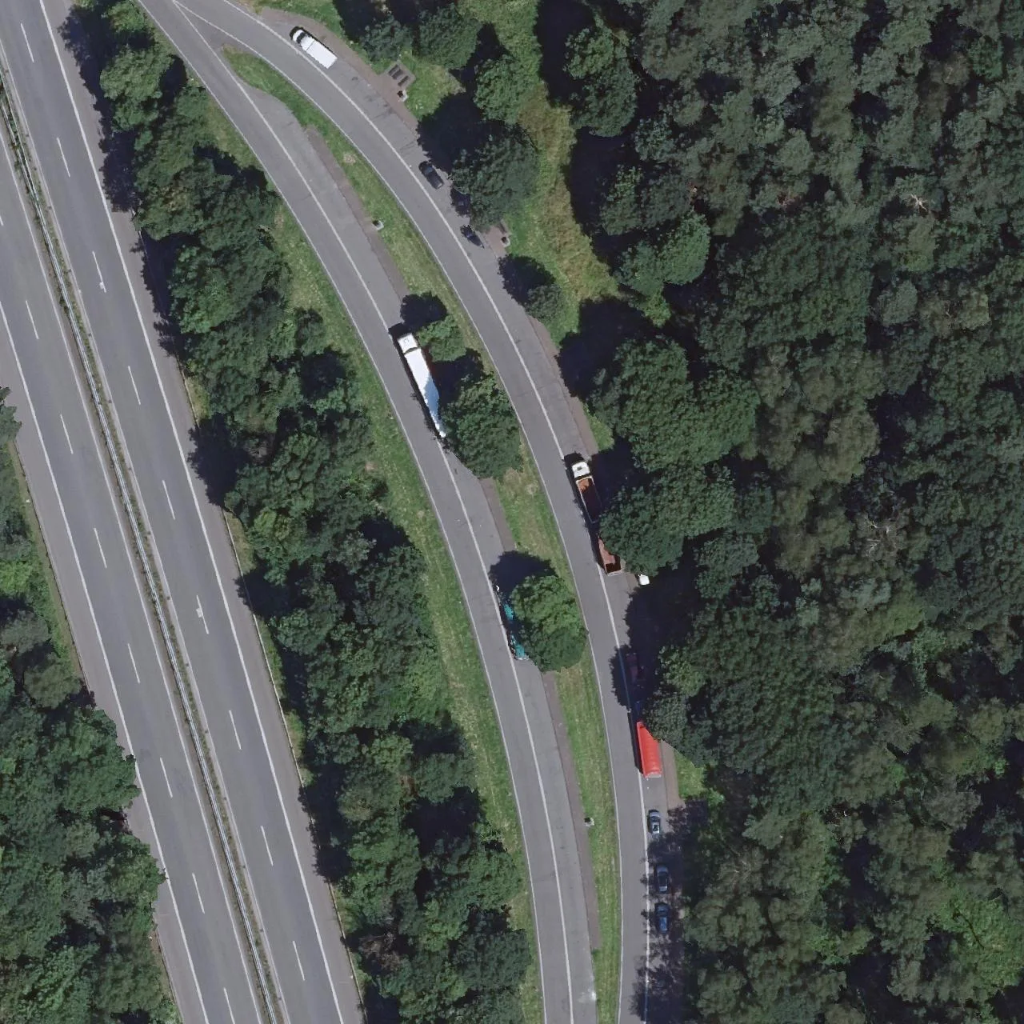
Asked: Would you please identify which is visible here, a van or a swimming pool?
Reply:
van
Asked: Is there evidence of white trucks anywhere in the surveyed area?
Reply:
Yes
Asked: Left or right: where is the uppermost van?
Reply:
left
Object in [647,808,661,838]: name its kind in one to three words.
car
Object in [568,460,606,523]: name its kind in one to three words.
truck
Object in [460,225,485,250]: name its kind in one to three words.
car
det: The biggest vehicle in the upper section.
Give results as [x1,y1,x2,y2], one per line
[395,332,454,437]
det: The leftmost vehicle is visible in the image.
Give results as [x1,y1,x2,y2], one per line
[294,29,337,68]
